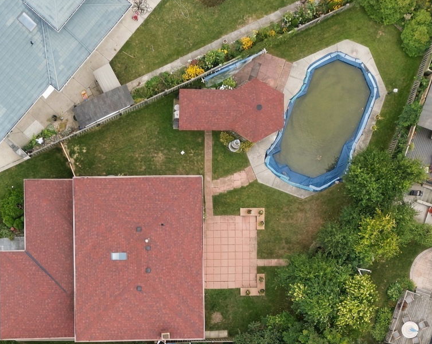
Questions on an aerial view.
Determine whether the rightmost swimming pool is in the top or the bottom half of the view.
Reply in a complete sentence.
The rightmost swimming pool is in the top half of the image.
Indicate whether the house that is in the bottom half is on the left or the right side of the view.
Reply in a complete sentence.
You can find the house that is in the bottom half on the left side of the picture.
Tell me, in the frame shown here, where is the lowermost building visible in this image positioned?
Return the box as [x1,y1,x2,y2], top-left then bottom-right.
[0,175,206,343]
